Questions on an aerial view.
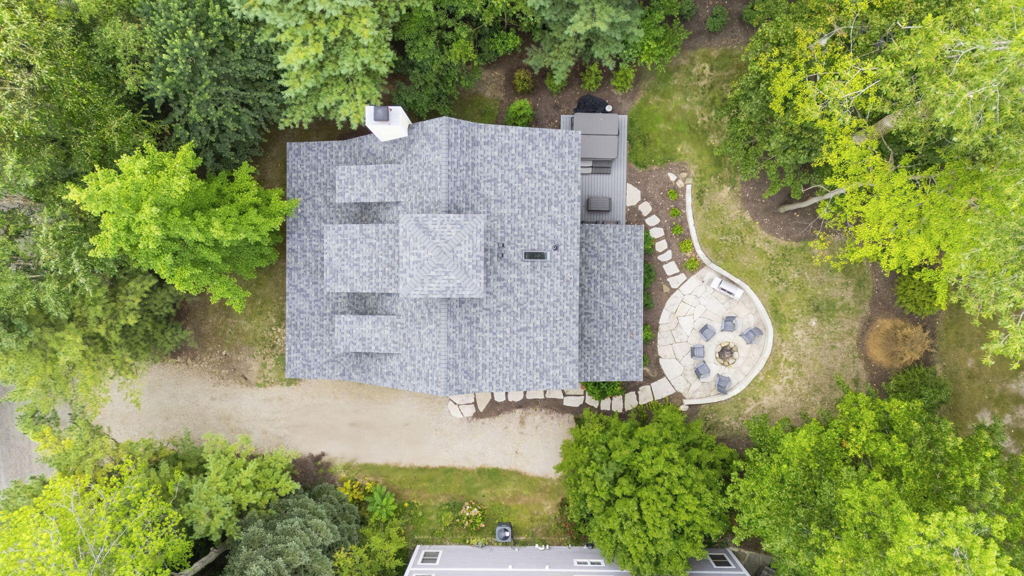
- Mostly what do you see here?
trees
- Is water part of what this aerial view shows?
No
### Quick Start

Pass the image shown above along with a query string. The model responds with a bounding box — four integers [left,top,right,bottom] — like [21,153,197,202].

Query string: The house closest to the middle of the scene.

[286,104,644,396]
